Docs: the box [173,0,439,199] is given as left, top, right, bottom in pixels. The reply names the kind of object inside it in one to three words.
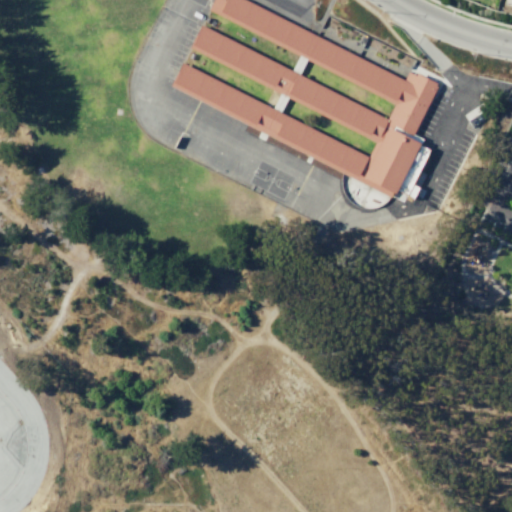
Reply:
building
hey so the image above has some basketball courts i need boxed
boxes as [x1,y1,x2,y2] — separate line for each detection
[252,162,296,200]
